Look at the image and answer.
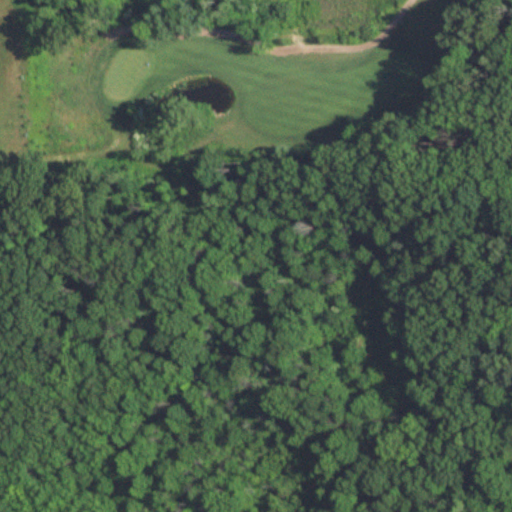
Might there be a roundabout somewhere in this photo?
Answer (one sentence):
No, I can't see a single roundabout in this photo.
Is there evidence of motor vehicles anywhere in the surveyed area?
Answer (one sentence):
No, I find no motor vehicle anywhere in the image.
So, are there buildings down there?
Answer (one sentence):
No, the picture doesn't show any building.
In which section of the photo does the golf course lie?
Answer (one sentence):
The golf course appears toward the top of the photo.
